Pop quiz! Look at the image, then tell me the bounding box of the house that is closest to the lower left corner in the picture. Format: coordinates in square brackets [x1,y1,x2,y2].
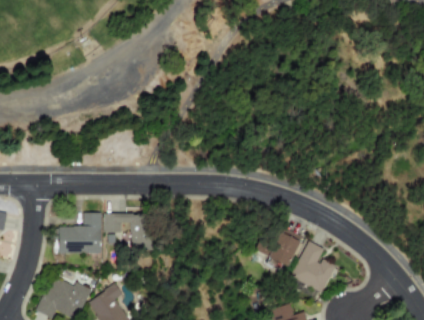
[34,280,90,320]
